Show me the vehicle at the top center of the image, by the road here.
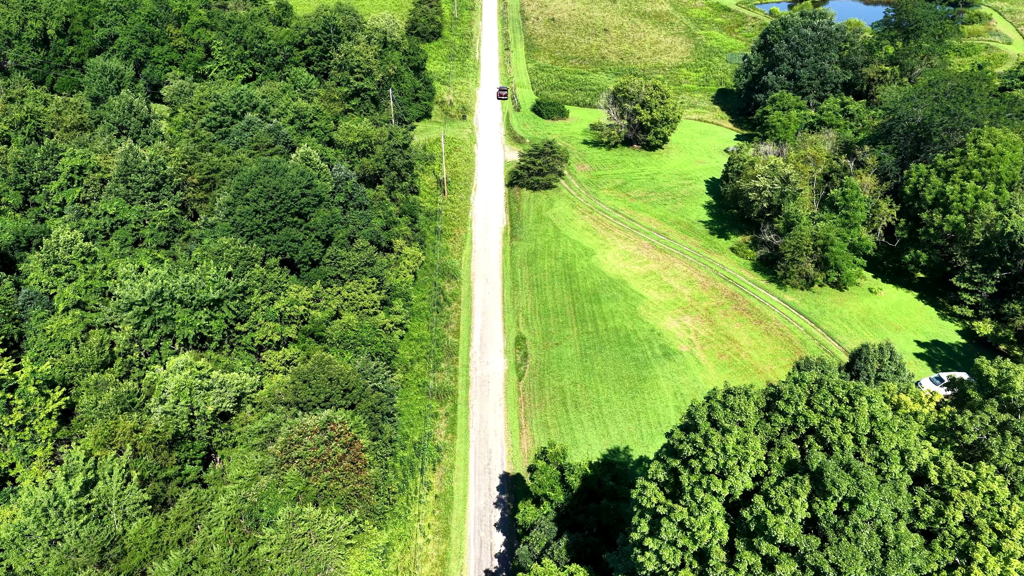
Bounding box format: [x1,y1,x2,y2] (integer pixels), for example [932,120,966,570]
[497,85,509,100]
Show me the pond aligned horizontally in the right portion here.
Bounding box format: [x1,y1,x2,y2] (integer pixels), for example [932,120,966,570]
[750,0,975,36]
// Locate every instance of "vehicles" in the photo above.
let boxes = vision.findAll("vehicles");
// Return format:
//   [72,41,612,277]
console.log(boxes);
[921,371,978,397]
[497,85,509,100]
